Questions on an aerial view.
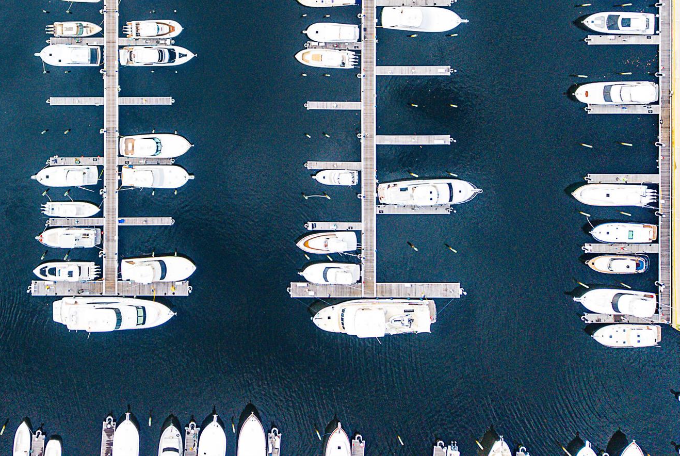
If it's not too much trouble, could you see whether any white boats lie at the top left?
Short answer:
Yes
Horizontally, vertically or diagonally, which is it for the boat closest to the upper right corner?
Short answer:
horizontally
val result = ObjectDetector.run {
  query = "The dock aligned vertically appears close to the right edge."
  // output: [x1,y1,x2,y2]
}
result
[655,0,671,323]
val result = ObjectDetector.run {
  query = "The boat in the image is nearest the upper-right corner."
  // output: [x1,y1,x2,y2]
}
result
[581,11,655,35]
